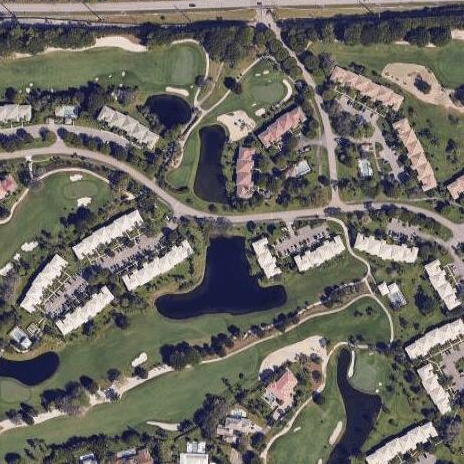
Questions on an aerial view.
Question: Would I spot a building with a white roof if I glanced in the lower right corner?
Yes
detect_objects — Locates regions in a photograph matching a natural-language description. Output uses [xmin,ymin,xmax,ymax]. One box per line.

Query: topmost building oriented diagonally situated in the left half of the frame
[97,105,159,149]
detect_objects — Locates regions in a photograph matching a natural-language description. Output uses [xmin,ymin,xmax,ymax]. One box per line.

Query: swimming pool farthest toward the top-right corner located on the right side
[358,152,373,178]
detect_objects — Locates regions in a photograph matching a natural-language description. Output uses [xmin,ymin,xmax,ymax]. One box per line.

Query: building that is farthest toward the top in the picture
[330,67,405,111]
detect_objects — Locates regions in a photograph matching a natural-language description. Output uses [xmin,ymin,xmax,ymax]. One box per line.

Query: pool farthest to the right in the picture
[380,285,406,305]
